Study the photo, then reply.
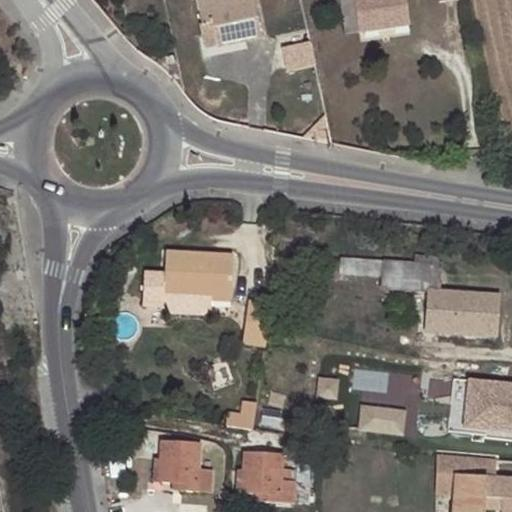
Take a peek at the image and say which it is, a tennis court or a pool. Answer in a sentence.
There is a pool in the scene.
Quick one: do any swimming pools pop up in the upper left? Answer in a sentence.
No, no swimming pool appears in the upper left.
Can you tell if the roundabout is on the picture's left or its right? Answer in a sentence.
The roundabout appears in the left half of the scene.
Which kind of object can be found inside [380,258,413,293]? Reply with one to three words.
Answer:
shed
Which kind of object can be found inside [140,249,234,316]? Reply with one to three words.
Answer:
house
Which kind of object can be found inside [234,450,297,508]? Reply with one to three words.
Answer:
house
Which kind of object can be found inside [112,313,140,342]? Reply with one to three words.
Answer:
swimming pool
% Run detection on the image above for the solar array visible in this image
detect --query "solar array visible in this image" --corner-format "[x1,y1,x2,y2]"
[219,20,257,44]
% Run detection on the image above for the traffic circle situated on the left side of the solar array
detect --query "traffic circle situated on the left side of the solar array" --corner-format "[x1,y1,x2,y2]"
[0,24,238,258]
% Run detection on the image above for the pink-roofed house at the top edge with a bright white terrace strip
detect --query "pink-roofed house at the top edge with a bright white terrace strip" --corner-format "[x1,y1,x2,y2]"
[342,0,414,44]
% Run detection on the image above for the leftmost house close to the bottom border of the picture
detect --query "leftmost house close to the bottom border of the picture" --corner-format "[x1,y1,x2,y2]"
[147,440,214,504]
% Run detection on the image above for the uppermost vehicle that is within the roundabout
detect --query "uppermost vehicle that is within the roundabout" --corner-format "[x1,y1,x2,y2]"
[40,180,65,194]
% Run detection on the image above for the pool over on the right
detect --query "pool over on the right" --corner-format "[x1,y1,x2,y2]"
[352,370,389,393]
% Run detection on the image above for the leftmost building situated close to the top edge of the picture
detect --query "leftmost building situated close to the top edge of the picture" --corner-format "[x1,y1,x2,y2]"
[198,0,264,58]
